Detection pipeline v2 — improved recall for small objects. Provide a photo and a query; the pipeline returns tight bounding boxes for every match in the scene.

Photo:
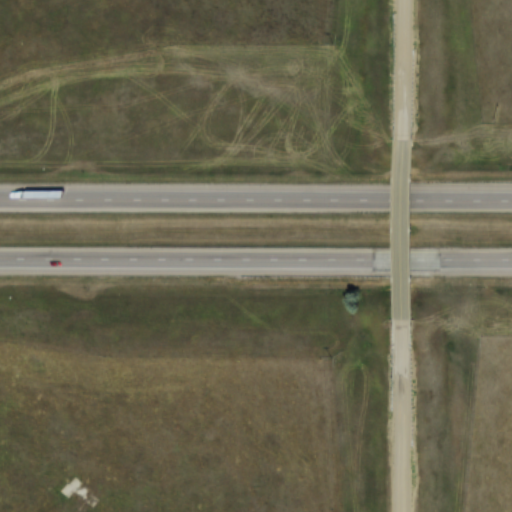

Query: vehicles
[50,260,61,265]
[10,192,62,200]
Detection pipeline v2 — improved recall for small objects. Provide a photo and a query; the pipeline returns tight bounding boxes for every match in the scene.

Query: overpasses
[390,139,412,324]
